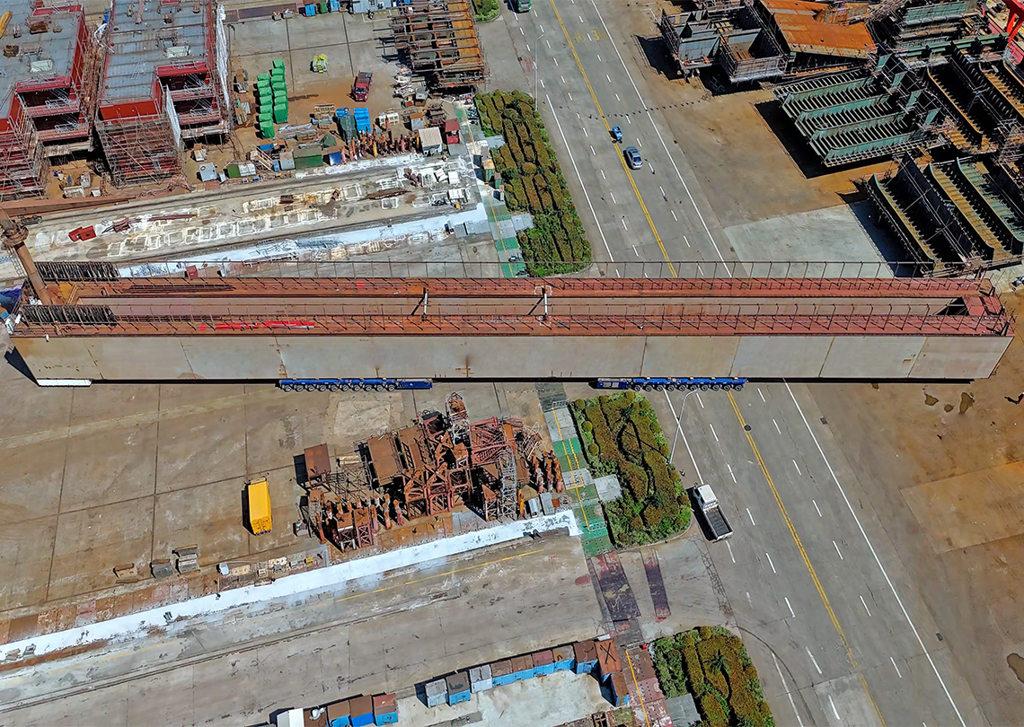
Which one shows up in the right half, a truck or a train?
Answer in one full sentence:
There is a truck in the right half.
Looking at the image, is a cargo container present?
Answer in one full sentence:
Yes, this view includes a cargo container.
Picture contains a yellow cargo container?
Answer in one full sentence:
Yes, you can see a yellow cargo container in this photo.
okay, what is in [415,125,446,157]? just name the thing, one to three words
shed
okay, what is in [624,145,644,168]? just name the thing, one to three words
car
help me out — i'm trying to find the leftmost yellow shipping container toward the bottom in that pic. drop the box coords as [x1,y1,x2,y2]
[246,477,278,542]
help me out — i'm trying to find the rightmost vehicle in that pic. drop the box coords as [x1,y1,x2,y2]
[691,481,734,540]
